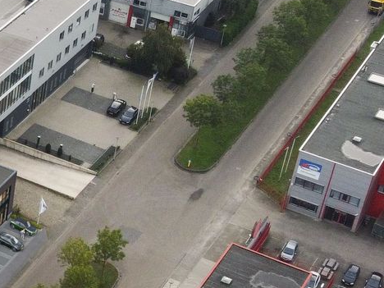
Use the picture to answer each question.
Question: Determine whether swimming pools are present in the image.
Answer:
No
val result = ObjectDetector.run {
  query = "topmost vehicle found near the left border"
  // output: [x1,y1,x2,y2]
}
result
[7,216,38,236]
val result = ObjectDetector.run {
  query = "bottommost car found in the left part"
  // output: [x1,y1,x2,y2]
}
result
[0,234,27,254]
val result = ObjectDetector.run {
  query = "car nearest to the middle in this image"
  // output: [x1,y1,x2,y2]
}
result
[119,106,138,126]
